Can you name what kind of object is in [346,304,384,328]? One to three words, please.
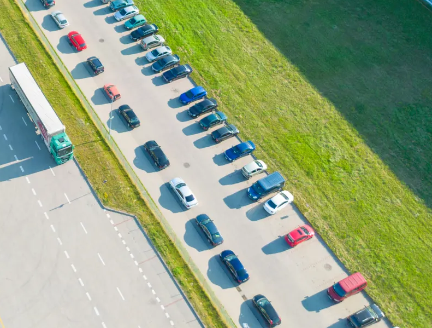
car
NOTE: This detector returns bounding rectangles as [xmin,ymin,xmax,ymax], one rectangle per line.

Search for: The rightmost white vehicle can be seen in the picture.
[260,192,295,215]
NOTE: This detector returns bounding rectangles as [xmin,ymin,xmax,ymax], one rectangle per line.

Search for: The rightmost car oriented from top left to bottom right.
[251,294,283,328]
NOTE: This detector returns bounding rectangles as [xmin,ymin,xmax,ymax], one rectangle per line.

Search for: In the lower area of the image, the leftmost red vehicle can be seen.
[284,225,315,248]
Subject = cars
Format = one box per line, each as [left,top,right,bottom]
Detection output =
[197,112,228,131]
[110,0,133,13]
[41,0,57,11]
[114,6,139,22]
[260,192,295,215]
[346,304,384,328]
[138,35,165,52]
[145,46,172,63]
[50,11,70,31]
[179,87,207,106]
[194,215,225,249]
[67,33,87,52]
[102,84,122,104]
[150,56,181,74]
[284,225,315,248]
[223,141,257,163]
[251,294,283,328]
[85,56,107,78]
[116,105,142,131]
[237,159,269,181]
[219,250,252,286]
[162,65,192,83]
[170,178,197,210]
[208,124,240,144]
[144,141,171,170]
[187,99,219,120]
[129,25,159,42]
[124,15,146,30]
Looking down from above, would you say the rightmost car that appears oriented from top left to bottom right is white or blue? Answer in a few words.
blue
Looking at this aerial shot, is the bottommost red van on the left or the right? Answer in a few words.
right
